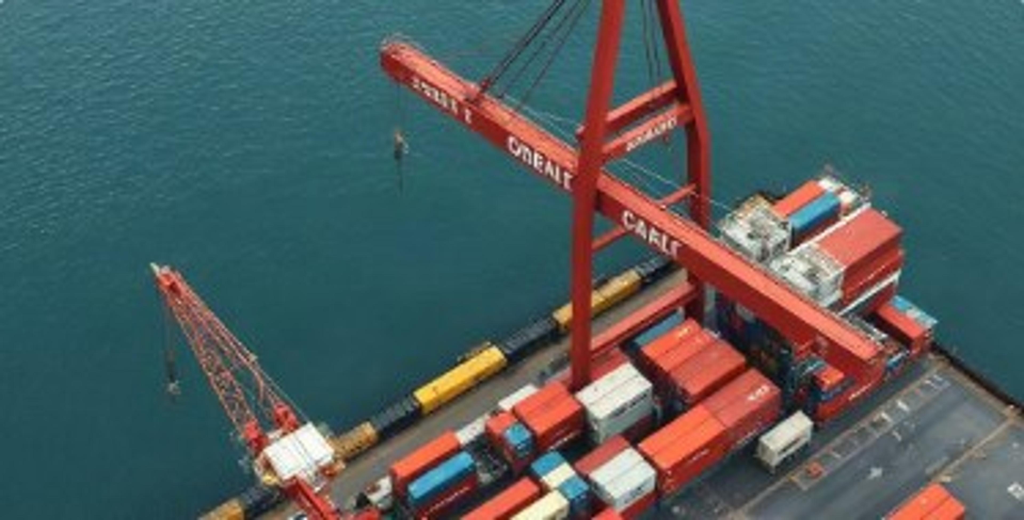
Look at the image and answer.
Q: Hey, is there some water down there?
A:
Yes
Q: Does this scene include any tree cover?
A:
No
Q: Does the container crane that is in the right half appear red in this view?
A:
Yes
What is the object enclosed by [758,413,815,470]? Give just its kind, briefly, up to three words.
trailer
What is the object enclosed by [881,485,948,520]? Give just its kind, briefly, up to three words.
shipping container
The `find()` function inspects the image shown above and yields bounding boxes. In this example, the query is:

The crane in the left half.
[141,260,361,520]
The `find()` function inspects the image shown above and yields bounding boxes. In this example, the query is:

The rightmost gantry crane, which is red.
[381,0,885,425]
